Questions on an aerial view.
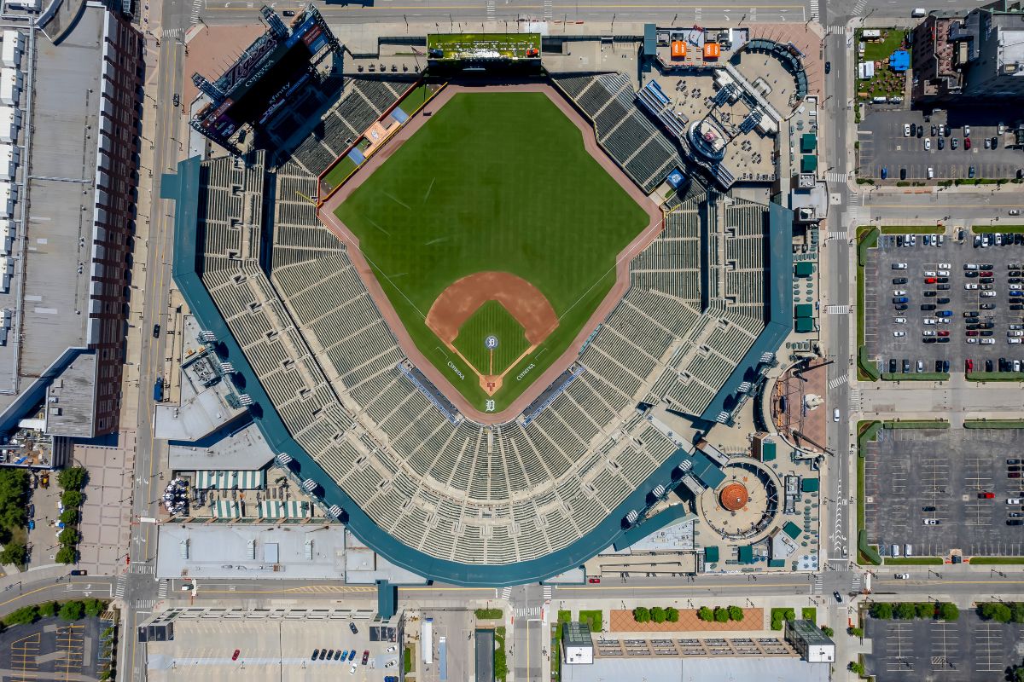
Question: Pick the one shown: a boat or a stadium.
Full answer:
The image shows a stadium.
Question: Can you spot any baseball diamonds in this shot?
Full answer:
Yes, there is a baseball diamond in the image.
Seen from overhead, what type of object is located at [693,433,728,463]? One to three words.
building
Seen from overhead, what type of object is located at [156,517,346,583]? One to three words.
building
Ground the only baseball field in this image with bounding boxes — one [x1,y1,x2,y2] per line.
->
[304,71,675,427]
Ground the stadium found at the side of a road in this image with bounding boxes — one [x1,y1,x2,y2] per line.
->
[160,73,792,587]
